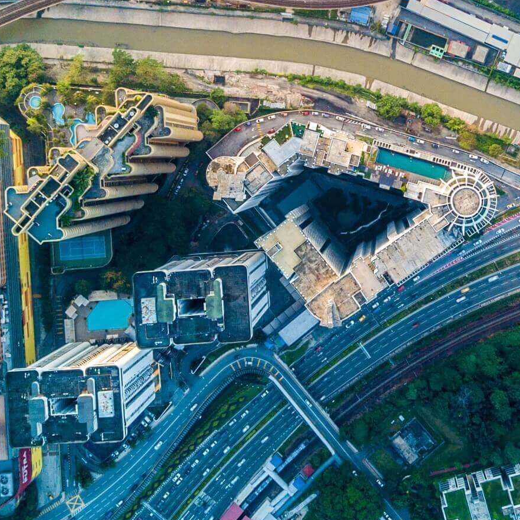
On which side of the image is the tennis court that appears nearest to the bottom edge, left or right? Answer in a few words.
left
